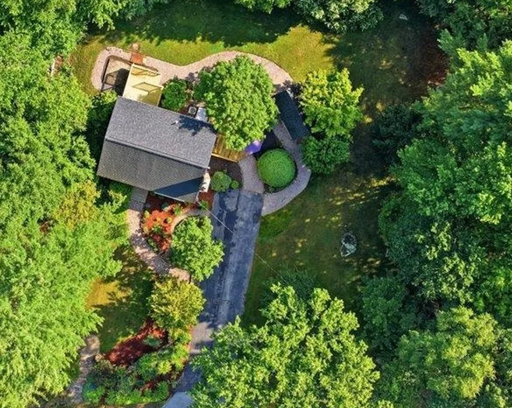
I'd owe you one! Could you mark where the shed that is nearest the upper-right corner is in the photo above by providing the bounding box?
[274,89,311,140]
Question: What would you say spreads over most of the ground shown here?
trees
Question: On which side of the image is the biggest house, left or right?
left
